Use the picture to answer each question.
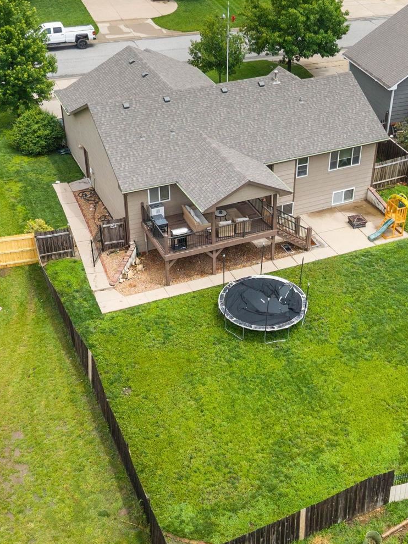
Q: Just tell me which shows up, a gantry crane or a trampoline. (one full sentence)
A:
Looking from above, you can make out a trampoline.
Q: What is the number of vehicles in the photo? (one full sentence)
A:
In total, there is 1 vehicle in the scene.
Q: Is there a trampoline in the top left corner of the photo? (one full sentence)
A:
No, there's no trampoline to be seen in the top left corner of the photo.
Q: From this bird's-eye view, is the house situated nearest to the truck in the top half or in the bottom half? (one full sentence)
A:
It is in the top half that the house situated nearest to the truck appears.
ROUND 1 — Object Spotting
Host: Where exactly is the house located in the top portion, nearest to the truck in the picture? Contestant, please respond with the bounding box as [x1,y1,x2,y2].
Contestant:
[49,48,389,249]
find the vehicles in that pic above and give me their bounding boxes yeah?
[29,22,92,52]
